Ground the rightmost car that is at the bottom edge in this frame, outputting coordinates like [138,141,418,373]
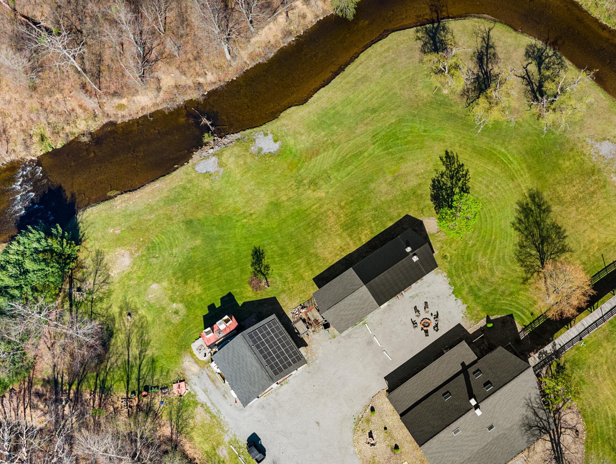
[245,442,264,464]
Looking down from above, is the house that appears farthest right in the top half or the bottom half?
bottom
